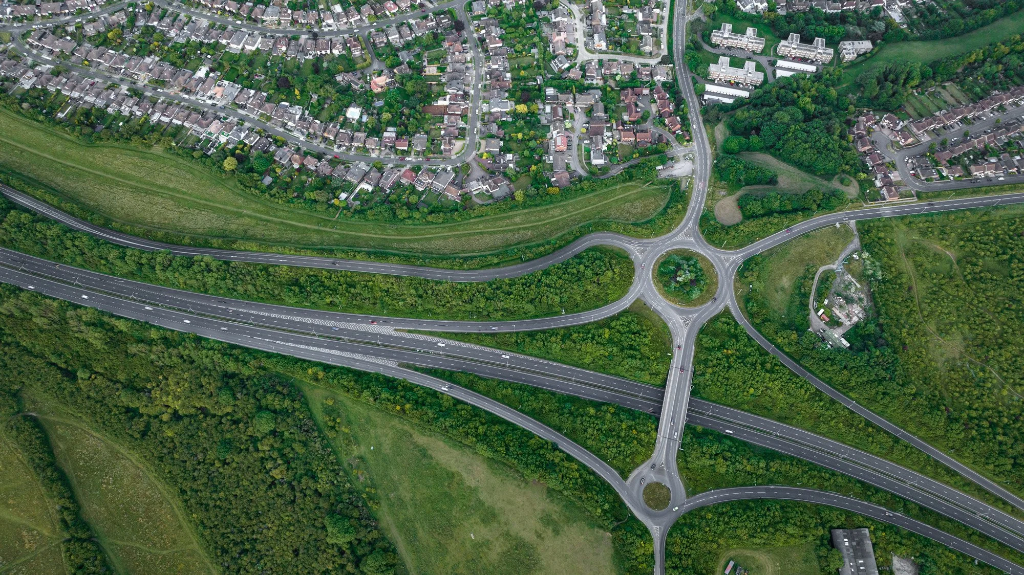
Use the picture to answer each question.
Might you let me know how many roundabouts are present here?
2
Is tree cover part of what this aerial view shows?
Yes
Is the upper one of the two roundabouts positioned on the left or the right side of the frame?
right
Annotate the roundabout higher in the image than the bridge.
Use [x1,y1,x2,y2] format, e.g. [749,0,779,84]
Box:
[597,222,768,346]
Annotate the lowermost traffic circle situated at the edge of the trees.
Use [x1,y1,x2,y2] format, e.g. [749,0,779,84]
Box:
[614,445,687,536]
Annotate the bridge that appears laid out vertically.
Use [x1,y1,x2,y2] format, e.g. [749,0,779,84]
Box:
[656,345,694,448]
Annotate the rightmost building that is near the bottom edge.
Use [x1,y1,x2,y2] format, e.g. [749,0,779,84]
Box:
[828,529,879,575]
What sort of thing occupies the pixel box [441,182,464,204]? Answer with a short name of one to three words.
house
